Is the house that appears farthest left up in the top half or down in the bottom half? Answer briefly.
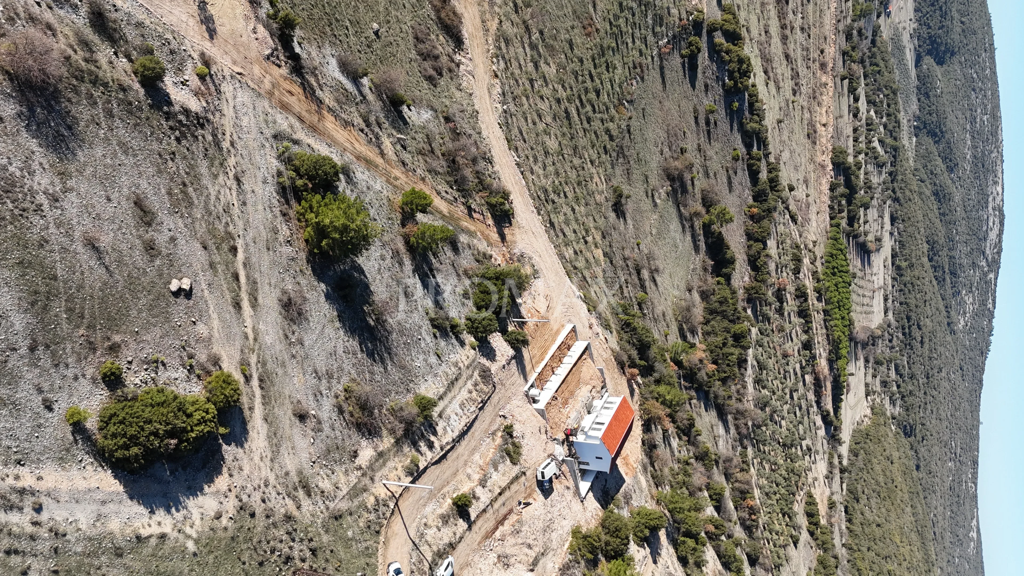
bottom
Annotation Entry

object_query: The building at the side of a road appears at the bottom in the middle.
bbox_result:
[565,385,635,472]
